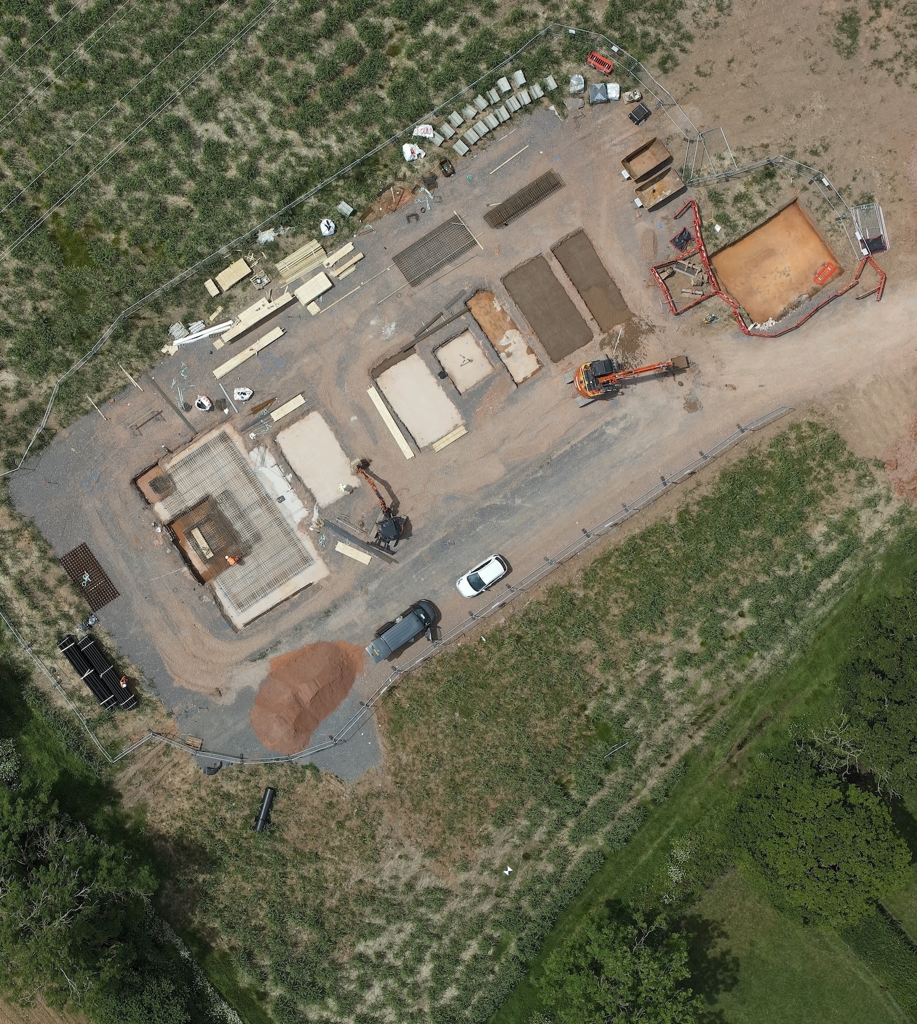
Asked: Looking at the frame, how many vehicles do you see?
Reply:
4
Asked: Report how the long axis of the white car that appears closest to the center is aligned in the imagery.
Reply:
on a diagonal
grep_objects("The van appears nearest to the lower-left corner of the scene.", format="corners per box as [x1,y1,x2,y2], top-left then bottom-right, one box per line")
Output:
[367,596,443,662]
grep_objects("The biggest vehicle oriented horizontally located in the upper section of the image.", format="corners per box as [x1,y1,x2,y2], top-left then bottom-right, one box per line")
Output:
[561,354,693,407]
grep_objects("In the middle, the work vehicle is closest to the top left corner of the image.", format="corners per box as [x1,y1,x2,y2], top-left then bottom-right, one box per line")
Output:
[348,454,406,555]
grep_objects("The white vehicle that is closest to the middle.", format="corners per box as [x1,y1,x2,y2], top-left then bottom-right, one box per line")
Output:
[456,552,510,599]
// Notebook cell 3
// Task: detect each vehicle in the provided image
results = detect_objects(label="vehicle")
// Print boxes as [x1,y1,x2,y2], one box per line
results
[456,552,510,599]
[348,454,406,555]
[561,354,693,407]
[367,596,443,662]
